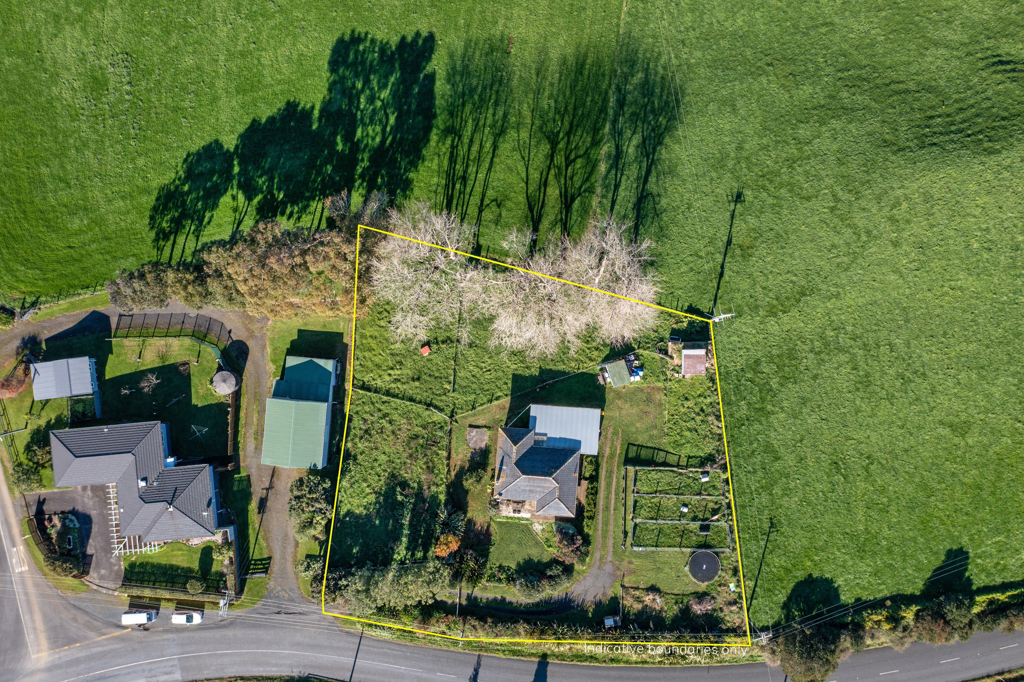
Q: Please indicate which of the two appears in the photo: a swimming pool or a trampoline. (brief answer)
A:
trampoline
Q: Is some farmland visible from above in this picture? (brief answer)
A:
Yes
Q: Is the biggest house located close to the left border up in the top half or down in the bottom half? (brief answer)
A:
bottom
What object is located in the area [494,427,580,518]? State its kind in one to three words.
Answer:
house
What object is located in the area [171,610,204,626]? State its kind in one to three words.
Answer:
car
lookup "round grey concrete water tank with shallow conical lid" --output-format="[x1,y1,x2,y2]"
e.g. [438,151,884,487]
[213,371,239,394]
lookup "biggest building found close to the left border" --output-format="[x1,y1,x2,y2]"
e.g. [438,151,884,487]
[49,421,219,543]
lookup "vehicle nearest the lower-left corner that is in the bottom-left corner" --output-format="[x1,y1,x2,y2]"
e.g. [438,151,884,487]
[122,609,159,625]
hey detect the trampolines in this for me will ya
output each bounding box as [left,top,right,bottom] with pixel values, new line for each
[688,551,721,584]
